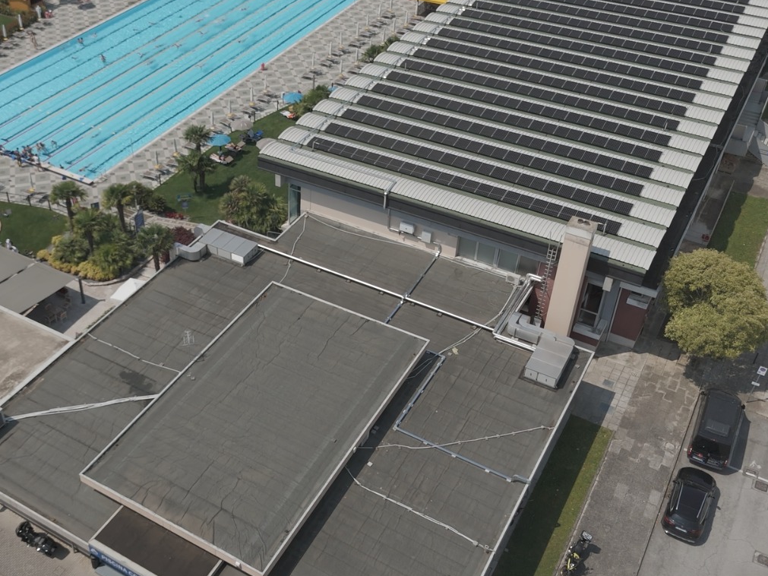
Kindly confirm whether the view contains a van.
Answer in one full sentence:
Yes, there's a van down there.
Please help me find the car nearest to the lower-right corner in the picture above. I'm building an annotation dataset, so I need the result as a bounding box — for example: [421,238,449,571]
[658,466,721,547]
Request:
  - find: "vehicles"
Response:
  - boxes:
[19,519,55,552]
[658,466,721,547]
[567,531,594,576]
[686,399,747,479]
